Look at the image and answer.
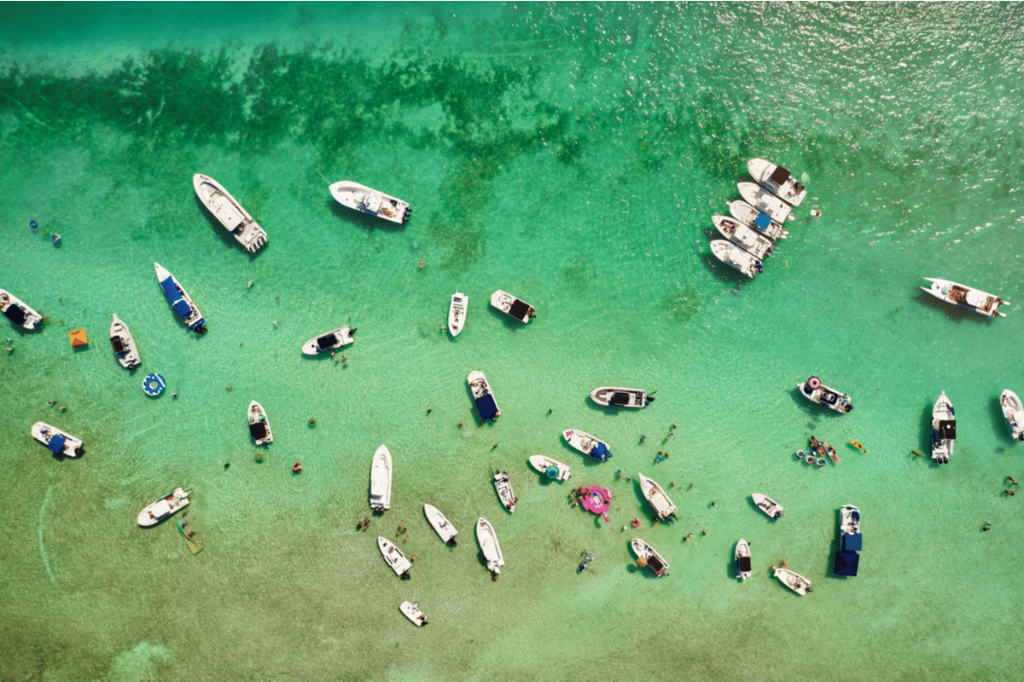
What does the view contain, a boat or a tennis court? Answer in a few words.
boat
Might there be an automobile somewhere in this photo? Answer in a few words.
No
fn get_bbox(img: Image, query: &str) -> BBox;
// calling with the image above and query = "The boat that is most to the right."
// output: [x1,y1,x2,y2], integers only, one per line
[996,389,1024,441]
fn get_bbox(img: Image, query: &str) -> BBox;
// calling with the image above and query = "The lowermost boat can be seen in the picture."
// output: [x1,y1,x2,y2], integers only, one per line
[400,601,428,626]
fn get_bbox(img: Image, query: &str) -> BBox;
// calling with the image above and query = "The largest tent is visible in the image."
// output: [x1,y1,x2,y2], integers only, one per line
[827,547,859,576]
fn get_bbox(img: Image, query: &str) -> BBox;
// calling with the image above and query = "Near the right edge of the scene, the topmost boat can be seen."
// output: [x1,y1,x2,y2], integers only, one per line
[916,277,1010,318]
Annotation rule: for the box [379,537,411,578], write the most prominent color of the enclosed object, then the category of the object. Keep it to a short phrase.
white boat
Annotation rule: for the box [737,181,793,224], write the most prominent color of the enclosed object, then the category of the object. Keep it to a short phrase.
white boat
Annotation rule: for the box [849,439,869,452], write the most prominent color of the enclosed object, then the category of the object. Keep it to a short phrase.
orange boat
